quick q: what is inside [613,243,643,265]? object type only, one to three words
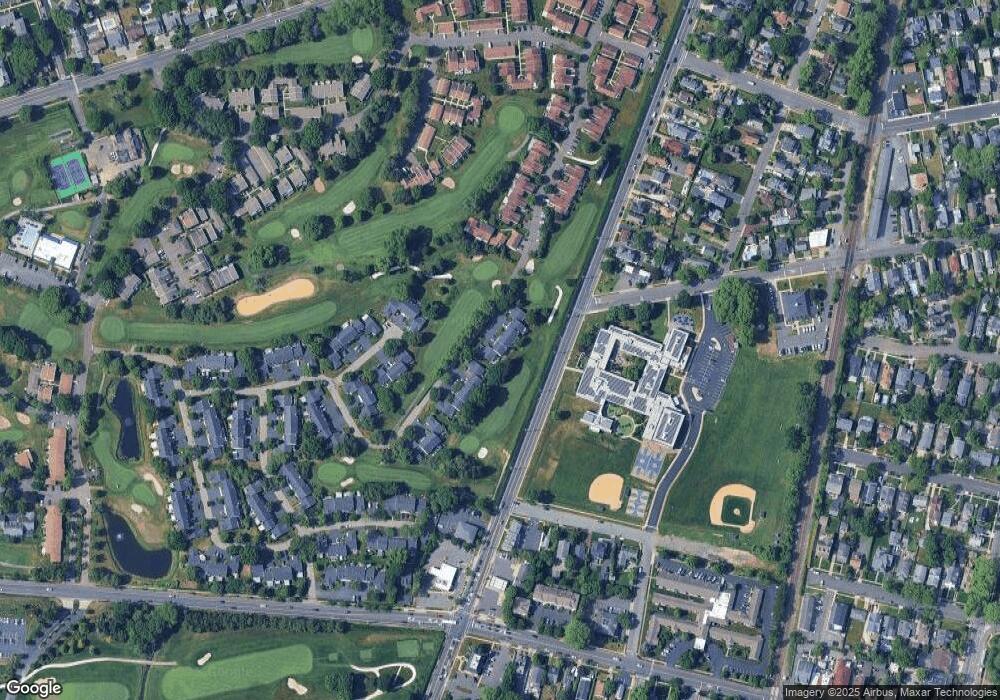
house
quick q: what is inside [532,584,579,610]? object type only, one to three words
building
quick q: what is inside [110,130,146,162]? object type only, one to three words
building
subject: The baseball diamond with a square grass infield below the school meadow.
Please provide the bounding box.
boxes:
[710,484,767,539]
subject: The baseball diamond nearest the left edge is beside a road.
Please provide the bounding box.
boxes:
[589,474,630,515]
